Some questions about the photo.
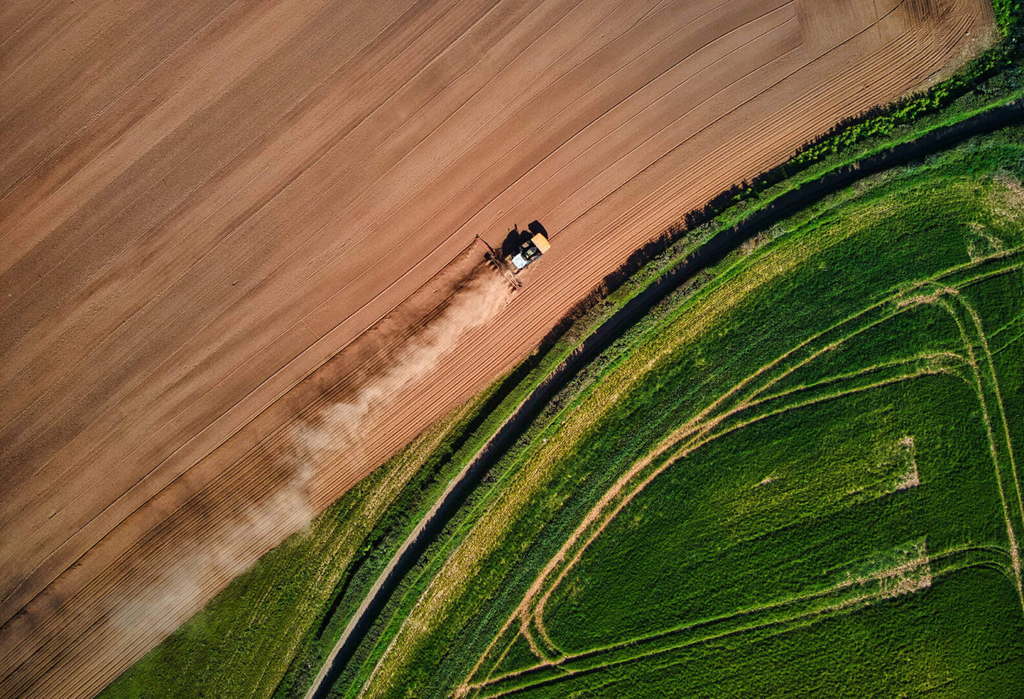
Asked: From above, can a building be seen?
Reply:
No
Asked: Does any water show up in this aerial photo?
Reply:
No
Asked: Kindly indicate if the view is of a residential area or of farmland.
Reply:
farmland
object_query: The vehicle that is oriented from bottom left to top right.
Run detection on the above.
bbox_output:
[504,233,550,276]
